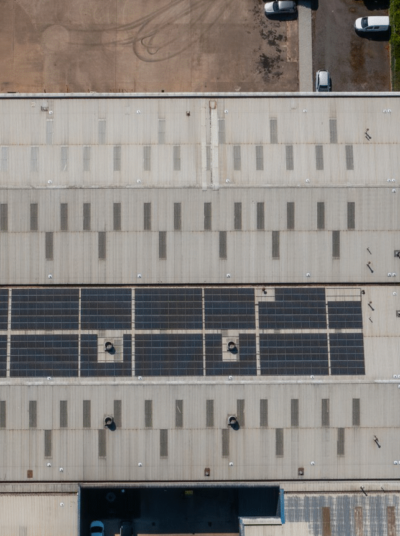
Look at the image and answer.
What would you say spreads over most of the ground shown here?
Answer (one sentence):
For the most part, this view shows buildings.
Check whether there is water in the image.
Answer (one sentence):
No, the picture contains no water.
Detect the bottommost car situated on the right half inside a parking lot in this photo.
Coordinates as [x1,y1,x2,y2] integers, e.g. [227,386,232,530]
[315,70,330,91]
